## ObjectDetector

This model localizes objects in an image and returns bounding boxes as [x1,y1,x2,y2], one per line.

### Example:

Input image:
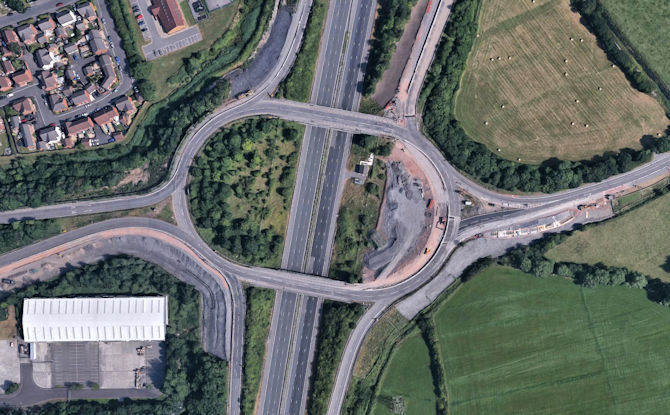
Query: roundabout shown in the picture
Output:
[171,99,461,300]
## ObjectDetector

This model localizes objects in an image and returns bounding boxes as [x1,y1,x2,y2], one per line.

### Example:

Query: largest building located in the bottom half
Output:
[22,296,170,343]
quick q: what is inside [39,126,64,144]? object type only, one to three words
house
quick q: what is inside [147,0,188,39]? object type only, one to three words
building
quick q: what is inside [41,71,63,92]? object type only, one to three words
house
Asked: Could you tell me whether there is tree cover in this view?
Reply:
Yes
